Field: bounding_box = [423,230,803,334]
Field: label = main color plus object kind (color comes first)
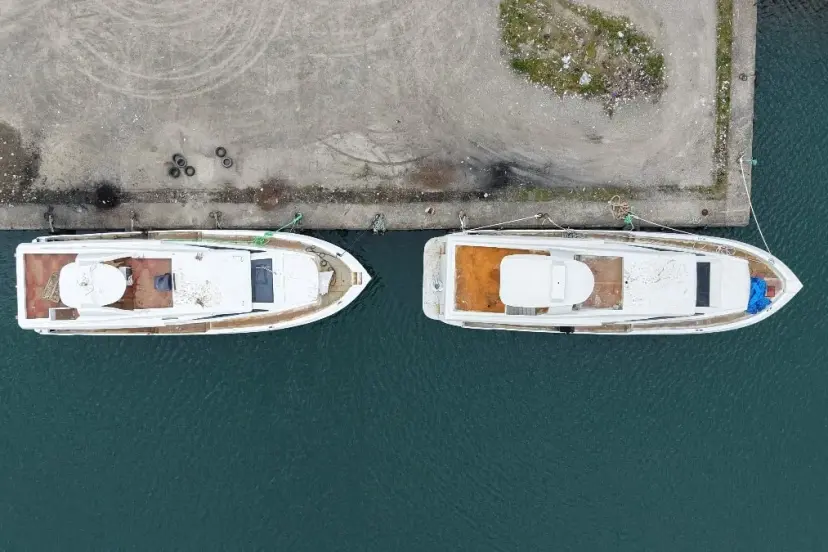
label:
white boat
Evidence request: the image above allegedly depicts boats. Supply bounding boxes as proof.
[423,230,803,334]
[13,230,372,335]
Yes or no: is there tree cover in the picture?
No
